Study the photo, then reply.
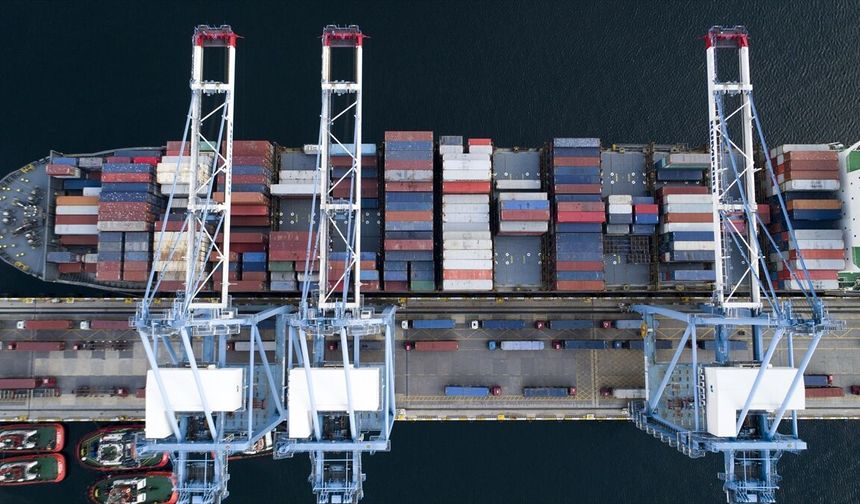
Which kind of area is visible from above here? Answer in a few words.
port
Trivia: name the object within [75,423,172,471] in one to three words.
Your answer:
boat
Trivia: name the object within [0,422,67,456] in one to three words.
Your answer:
boat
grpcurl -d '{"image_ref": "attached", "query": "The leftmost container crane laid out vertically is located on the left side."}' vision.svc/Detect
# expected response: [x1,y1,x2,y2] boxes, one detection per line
[123,24,293,504]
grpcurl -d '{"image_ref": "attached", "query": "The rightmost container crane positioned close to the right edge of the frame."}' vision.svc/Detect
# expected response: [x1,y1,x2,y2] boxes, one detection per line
[615,28,837,504]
